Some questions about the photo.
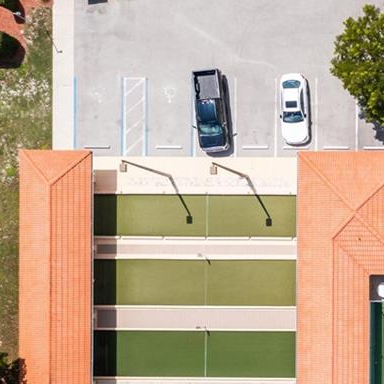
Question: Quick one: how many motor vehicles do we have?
2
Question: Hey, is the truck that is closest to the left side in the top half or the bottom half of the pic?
top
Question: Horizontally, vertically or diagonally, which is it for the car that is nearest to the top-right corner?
vertically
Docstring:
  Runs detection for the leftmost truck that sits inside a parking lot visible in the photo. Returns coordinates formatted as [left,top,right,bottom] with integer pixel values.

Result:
[191,67,232,152]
